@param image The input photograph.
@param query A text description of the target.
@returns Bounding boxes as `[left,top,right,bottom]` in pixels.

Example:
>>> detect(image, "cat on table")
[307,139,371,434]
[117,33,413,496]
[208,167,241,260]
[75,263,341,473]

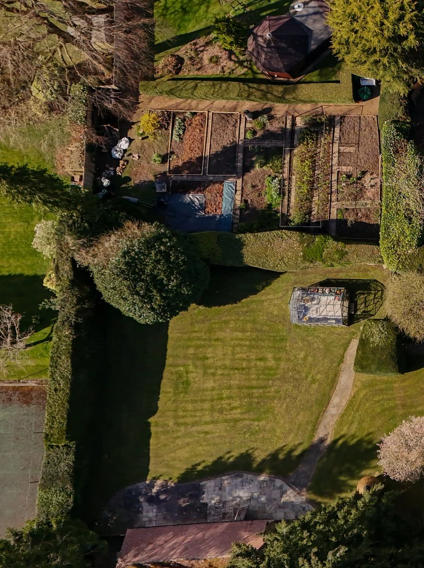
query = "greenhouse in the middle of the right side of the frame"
[289,288,357,327]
